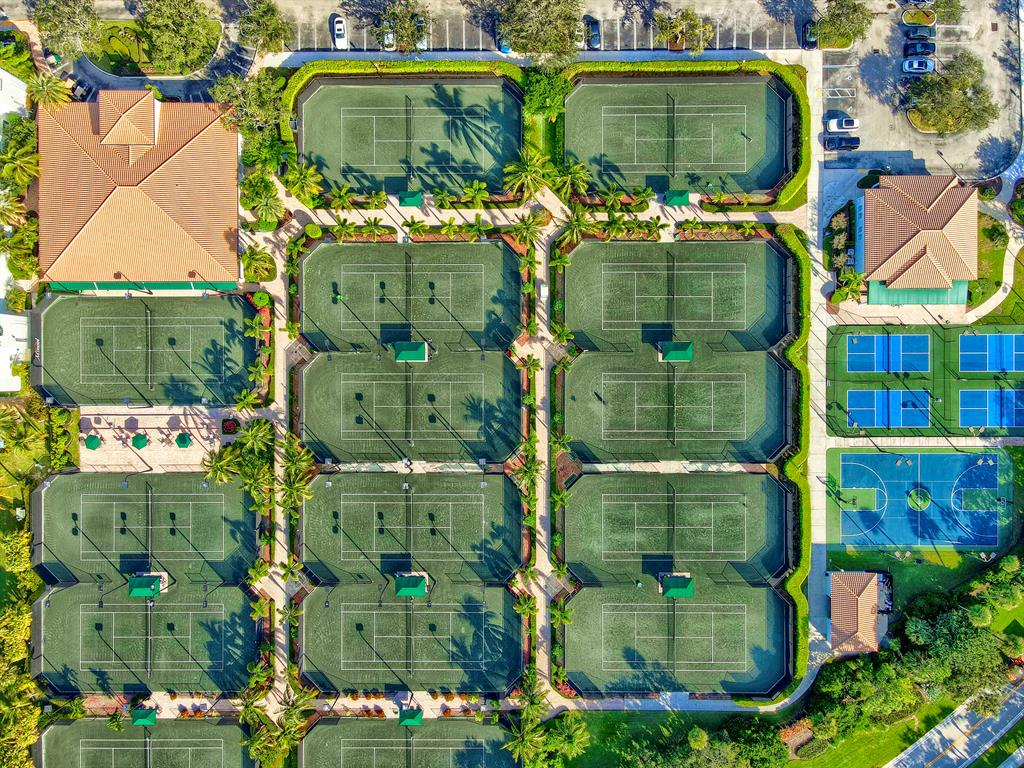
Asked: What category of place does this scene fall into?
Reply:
sports ground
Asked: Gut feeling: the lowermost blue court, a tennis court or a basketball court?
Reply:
basketball court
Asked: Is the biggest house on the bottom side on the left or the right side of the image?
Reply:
right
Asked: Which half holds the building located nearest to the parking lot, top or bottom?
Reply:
top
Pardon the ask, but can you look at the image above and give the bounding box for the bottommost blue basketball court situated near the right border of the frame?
[826,448,1013,552]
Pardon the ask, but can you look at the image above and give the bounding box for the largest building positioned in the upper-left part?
[38,89,248,292]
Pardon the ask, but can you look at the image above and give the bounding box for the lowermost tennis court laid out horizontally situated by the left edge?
[42,717,254,768]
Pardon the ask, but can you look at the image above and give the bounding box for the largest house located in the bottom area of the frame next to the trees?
[827,572,878,650]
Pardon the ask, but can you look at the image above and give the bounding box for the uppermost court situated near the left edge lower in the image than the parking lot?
[42,295,254,405]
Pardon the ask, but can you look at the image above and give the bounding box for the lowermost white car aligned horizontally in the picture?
[828,116,859,131]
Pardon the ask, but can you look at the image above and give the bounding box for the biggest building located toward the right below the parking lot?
[852,175,978,305]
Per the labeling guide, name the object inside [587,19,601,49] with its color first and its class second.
blue car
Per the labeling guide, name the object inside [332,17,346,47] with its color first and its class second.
white car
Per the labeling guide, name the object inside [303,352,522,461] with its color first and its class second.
green tennis court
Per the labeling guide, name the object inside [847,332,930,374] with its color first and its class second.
blue sports court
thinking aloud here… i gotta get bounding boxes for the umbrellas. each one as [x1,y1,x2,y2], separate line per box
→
[175,433,192,448]
[84,434,102,449]
[131,434,148,449]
